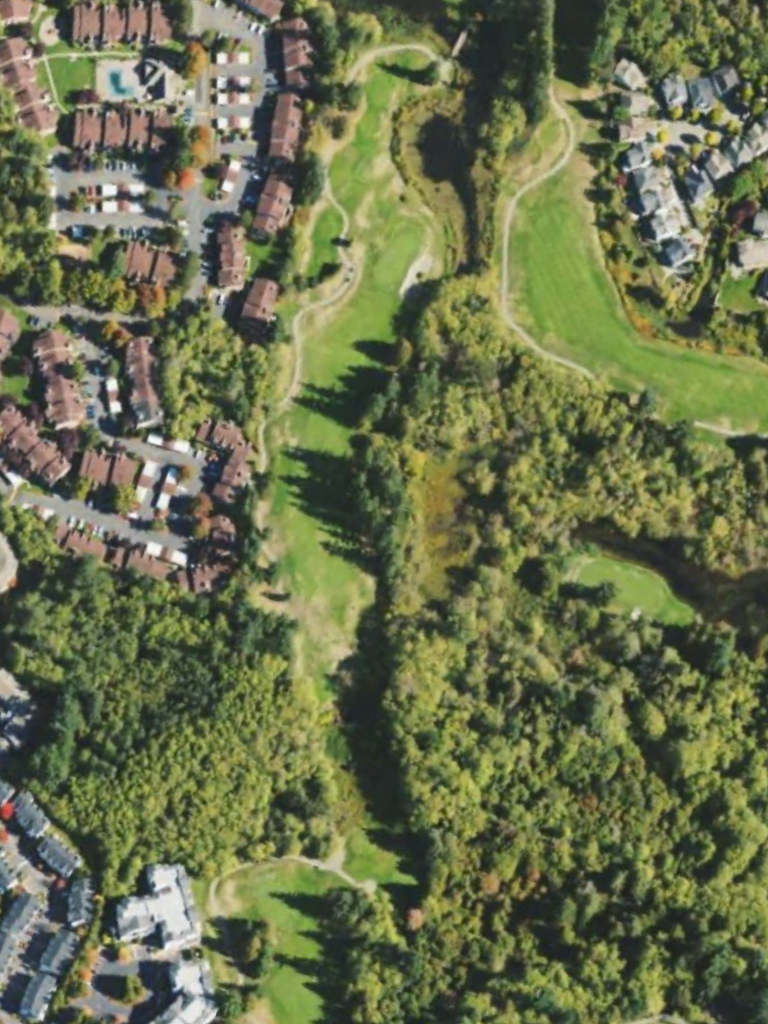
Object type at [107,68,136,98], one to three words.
swimming pool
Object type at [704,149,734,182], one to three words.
house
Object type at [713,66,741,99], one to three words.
house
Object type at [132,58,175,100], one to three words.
building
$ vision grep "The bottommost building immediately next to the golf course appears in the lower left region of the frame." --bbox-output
[153,955,220,1024]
